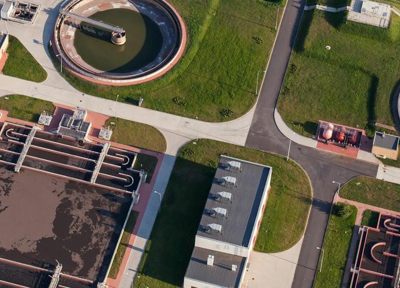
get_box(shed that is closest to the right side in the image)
[371,132,399,159]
